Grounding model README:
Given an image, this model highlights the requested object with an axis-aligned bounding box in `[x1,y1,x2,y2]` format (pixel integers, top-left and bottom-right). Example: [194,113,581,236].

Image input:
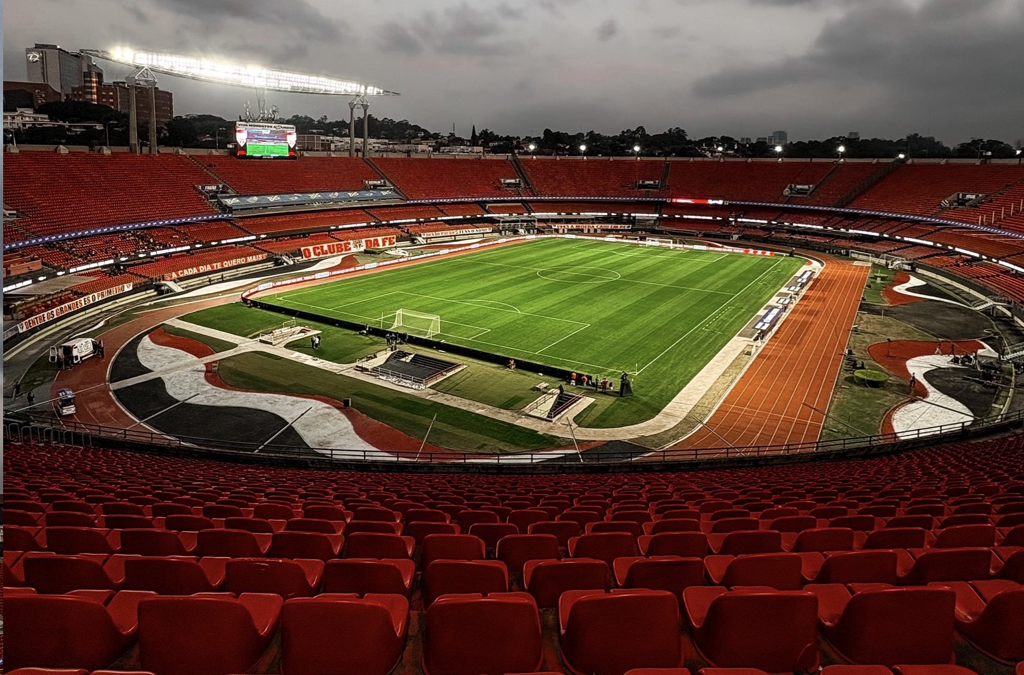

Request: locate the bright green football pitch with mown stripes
[227,237,803,408]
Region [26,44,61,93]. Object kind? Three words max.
building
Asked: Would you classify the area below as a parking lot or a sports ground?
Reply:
sports ground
